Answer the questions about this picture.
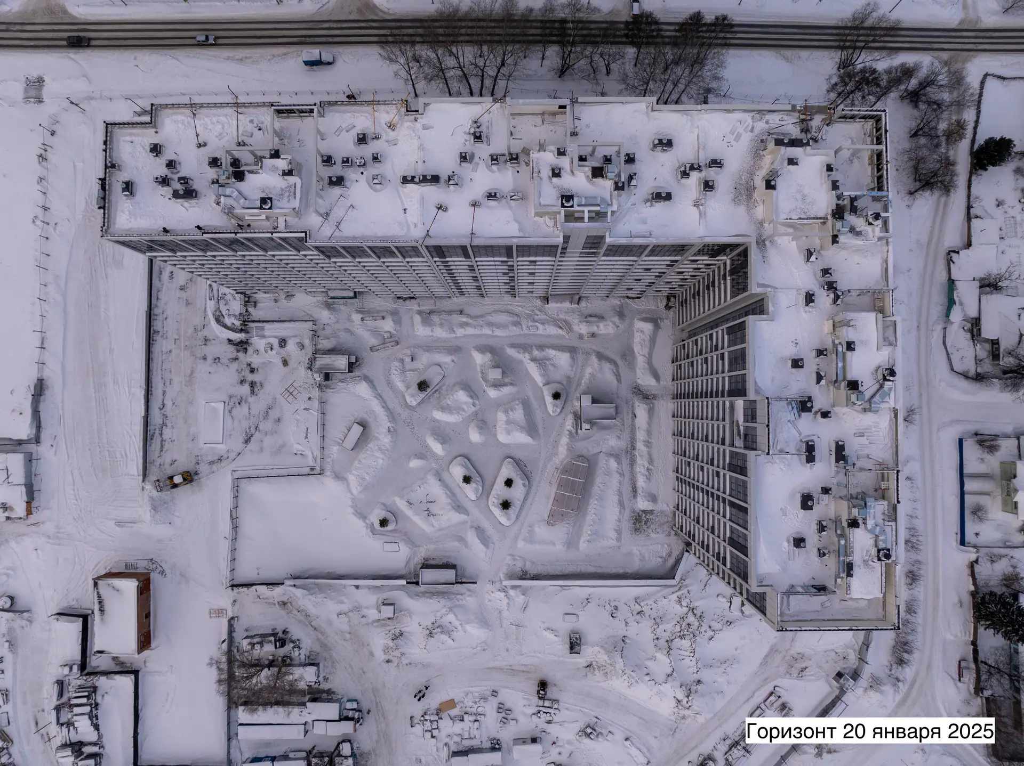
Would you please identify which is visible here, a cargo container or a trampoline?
cargo container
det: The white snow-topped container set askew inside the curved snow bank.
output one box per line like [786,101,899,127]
[341,421,366,450]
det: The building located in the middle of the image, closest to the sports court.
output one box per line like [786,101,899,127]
[579,394,615,429]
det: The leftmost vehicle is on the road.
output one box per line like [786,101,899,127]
[65,34,91,48]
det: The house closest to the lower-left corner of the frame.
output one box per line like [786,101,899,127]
[89,573,152,655]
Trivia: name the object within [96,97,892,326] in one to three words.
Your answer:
building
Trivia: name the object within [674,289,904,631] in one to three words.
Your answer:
building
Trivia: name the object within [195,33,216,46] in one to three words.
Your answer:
vehicle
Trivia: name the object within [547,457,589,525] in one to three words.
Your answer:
sports court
